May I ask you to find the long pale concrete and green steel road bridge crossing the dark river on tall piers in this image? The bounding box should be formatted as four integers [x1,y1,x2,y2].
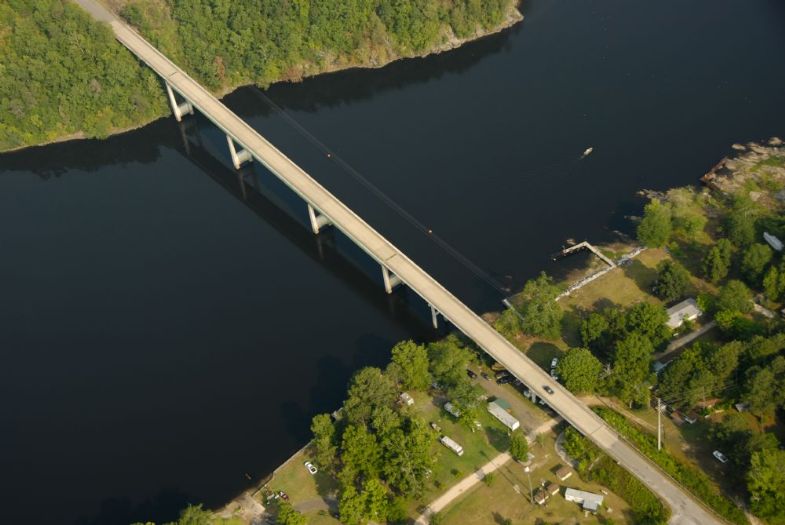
[107,15,632,460]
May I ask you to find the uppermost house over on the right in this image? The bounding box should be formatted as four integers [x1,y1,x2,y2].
[658,298,704,333]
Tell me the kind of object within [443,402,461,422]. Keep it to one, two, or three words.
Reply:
camper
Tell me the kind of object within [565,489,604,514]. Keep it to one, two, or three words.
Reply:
house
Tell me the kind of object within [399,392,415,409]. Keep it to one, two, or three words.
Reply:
camper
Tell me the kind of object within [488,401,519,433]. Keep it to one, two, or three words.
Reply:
house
